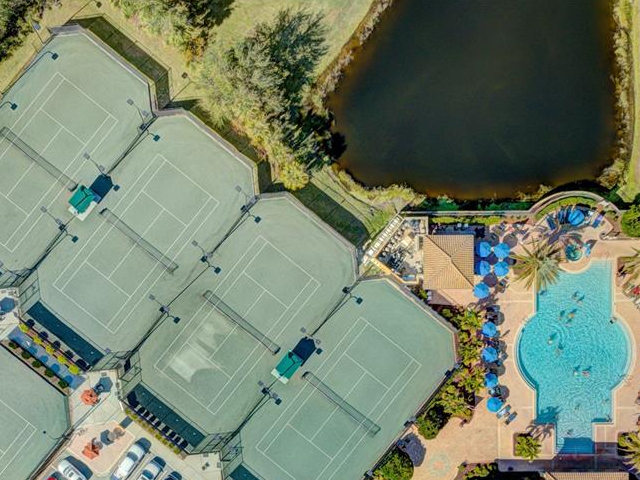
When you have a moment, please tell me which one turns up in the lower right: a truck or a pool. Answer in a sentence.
Visible in the lower right is a pool.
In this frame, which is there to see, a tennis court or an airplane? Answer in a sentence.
Of the two, only a tennis court appears.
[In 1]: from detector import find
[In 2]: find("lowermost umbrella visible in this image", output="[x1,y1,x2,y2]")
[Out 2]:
[83,442,101,459]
